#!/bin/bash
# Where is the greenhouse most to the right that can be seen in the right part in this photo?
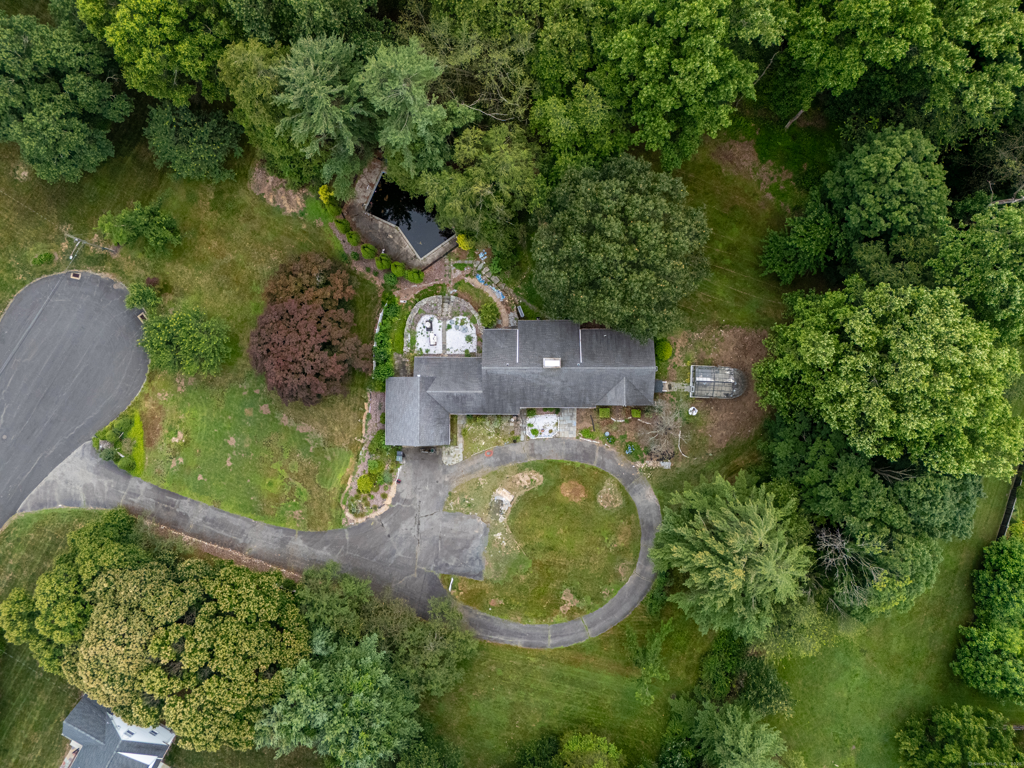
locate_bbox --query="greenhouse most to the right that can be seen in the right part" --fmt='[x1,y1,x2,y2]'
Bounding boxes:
[688,365,746,400]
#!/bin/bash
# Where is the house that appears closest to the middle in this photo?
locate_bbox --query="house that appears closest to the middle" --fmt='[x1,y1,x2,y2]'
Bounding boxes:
[385,319,663,447]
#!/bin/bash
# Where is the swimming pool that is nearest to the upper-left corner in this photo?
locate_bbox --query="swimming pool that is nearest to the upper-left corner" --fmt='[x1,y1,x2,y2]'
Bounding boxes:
[362,168,459,262]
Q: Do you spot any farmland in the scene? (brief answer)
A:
No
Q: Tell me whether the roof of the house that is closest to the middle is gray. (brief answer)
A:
Yes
